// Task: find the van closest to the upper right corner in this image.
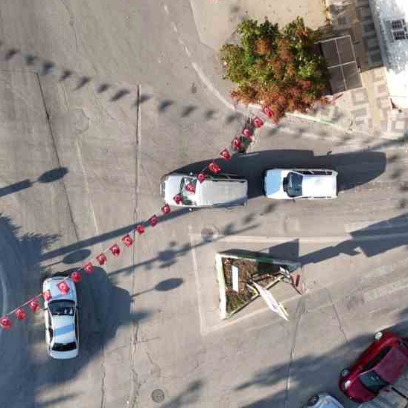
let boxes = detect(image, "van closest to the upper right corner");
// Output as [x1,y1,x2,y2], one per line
[259,165,338,203]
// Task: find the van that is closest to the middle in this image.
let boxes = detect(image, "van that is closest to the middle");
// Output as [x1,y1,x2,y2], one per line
[158,171,249,210]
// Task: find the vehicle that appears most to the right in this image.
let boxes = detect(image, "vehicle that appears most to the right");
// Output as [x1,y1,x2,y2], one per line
[335,328,408,400]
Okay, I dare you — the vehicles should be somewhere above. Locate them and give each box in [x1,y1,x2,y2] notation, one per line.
[335,328,408,400]
[259,165,338,203]
[158,171,249,210]
[301,393,338,408]
[41,271,81,358]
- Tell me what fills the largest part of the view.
paved ground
